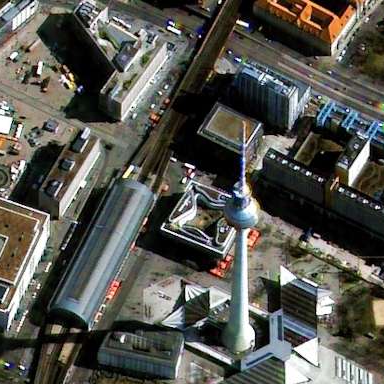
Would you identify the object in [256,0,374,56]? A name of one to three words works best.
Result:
building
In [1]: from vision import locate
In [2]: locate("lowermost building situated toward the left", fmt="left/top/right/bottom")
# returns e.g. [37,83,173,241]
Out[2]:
[98,316,186,376]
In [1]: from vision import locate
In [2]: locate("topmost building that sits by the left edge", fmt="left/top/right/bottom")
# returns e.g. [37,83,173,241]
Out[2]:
[0,0,44,30]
